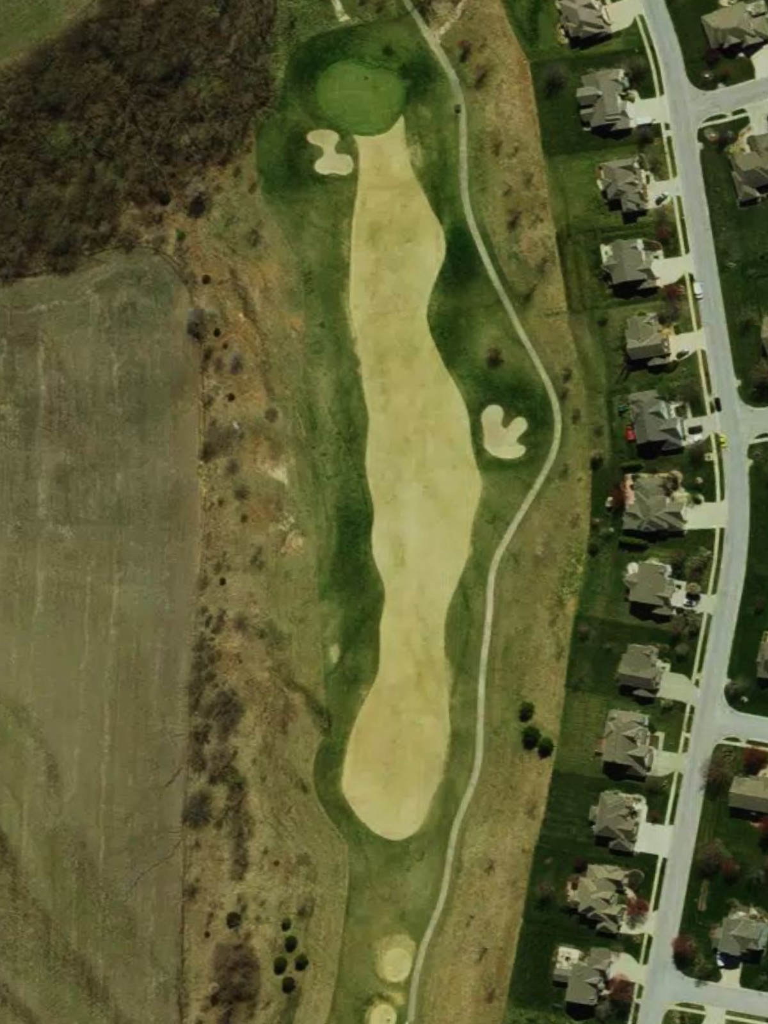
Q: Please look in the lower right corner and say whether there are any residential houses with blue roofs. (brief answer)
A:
No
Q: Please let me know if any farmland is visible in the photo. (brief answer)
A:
Yes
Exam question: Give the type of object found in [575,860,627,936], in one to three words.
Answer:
house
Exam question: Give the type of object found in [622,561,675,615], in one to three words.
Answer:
house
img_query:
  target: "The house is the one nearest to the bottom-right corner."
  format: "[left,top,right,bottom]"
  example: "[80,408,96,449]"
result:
[710,916,767,957]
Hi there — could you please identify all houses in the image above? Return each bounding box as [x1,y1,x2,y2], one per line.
[587,791,638,852]
[621,476,684,538]
[701,0,768,47]
[575,860,627,936]
[755,634,768,679]
[710,916,767,957]
[622,561,675,615]
[597,160,651,212]
[601,238,660,290]
[625,313,671,367]
[557,0,615,39]
[616,640,663,699]
[727,773,768,818]
[731,133,768,202]
[552,948,615,1005]
[601,707,652,773]
[629,392,685,450]
[572,68,636,130]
